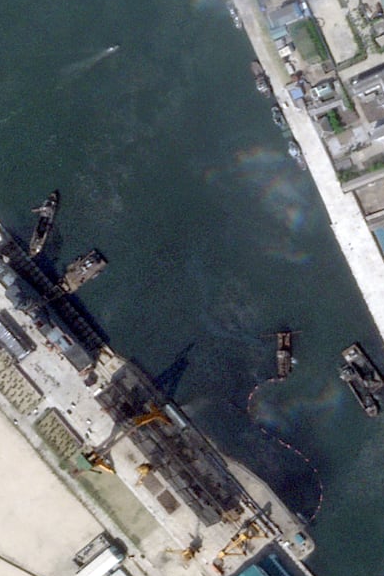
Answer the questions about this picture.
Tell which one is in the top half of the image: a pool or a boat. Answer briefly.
boat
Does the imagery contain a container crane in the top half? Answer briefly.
No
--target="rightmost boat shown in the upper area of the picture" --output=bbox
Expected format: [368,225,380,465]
[288,141,305,170]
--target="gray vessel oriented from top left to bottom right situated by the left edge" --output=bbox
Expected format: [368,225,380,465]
[0,260,101,378]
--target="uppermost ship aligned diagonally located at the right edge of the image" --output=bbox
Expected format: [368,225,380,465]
[342,343,383,392]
